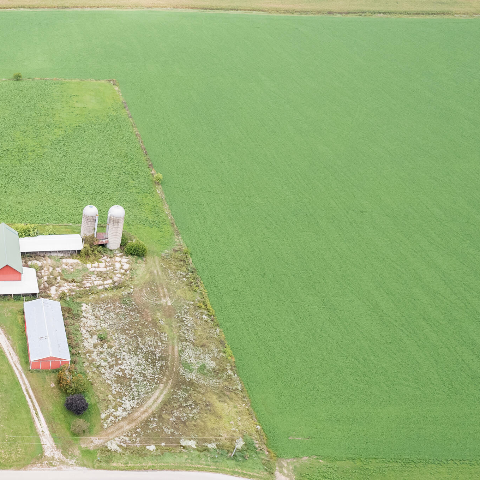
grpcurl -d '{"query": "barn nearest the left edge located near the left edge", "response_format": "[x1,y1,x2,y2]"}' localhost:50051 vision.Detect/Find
[0,222,38,298]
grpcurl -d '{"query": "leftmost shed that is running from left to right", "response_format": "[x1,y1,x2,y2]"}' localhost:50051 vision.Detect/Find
[20,235,82,256]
